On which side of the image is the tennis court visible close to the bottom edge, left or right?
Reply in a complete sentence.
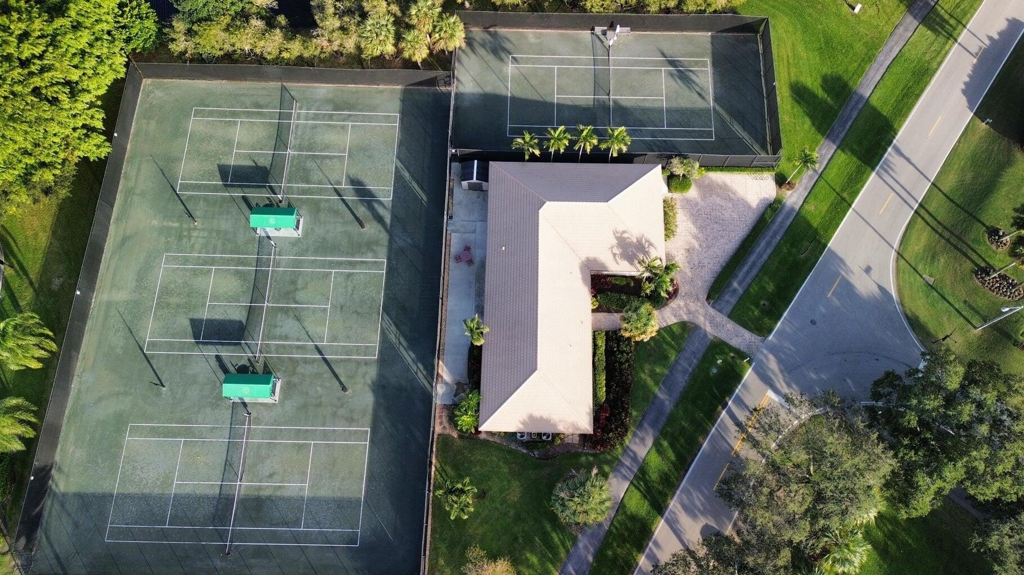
You can find the tennis court visible close to the bottom edge on the left side of the picture.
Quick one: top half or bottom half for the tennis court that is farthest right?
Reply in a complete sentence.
The tennis court that is farthest right is in the top half of the image.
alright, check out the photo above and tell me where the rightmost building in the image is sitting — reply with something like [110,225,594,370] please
[478,159,667,434]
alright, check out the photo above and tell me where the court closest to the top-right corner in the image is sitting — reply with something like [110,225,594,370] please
[450,27,773,169]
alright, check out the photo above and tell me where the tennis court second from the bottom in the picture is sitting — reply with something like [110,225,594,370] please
[72,222,444,395]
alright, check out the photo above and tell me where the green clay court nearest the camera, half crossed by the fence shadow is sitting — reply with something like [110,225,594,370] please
[28,386,435,575]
